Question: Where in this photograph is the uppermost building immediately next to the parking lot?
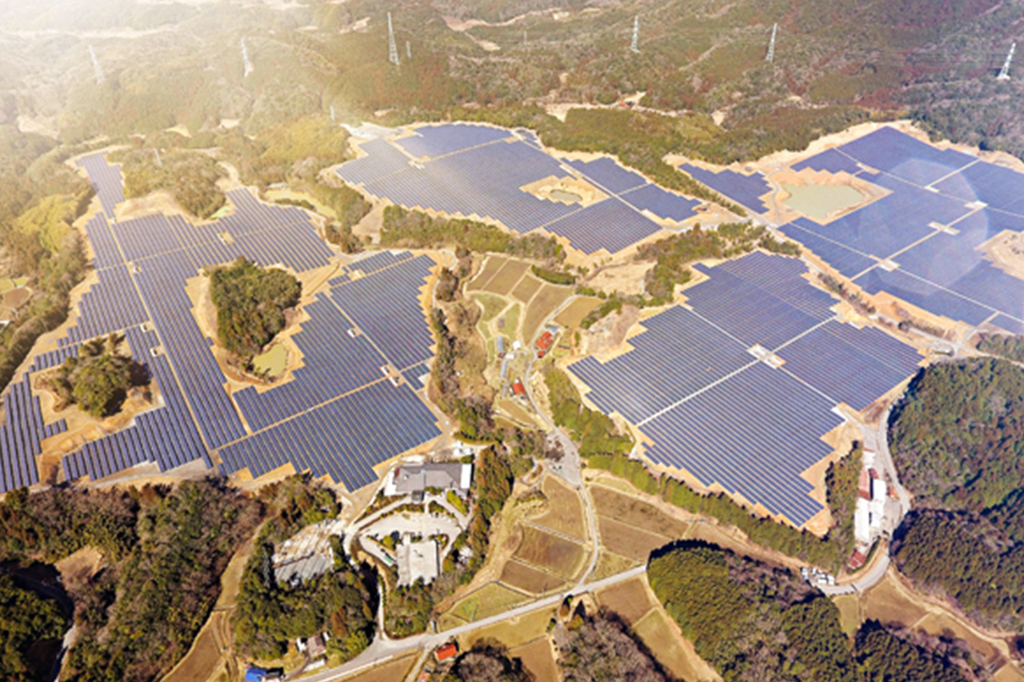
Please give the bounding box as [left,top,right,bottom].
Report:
[396,463,473,505]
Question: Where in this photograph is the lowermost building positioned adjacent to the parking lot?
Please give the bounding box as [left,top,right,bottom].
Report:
[397,534,442,592]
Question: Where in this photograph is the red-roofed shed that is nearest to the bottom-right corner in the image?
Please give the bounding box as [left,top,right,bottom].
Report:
[846,550,872,575]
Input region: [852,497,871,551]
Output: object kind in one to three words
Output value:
building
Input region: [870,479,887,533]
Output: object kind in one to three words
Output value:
shed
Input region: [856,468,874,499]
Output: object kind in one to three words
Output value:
shed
